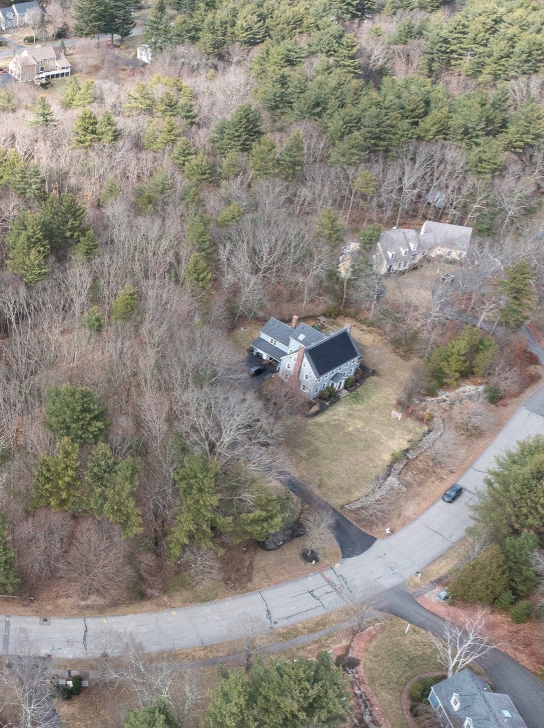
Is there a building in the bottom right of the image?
Yes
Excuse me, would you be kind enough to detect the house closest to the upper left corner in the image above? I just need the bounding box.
[0,0,46,28]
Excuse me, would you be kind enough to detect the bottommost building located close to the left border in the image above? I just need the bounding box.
[16,42,71,80]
